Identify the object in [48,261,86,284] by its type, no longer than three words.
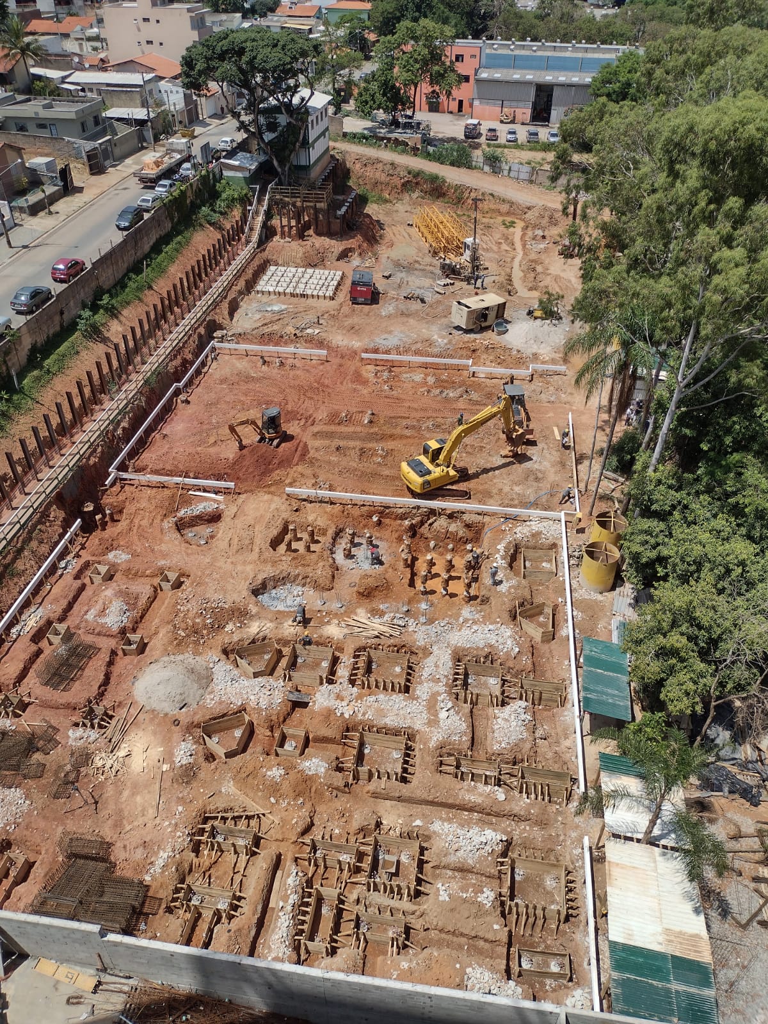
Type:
car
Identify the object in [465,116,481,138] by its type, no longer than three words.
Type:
vehicle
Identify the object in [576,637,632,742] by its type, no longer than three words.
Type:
shed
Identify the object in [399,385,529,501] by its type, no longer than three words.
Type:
work vehicle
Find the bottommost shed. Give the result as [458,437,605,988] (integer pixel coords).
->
[596,838,716,1024]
